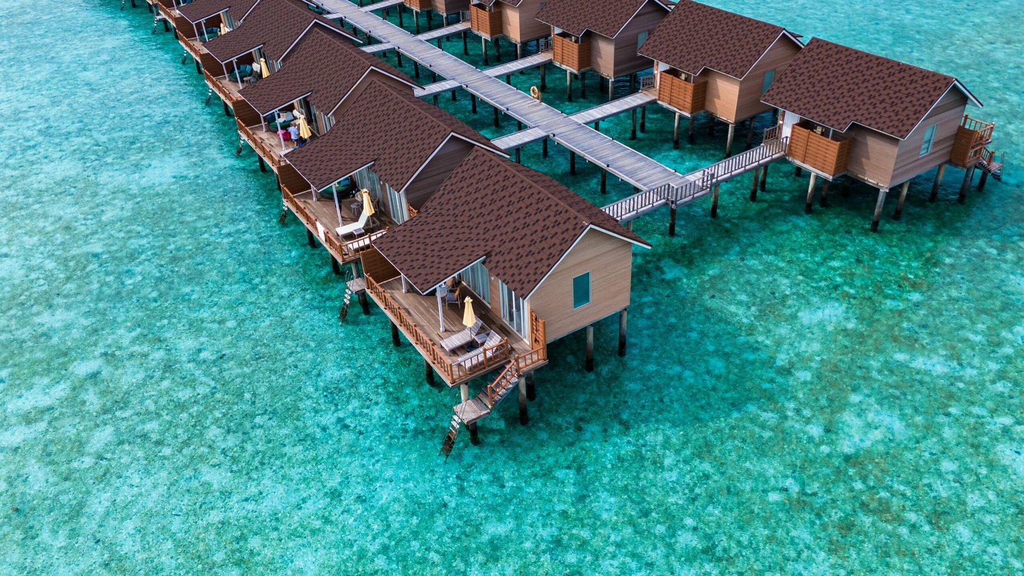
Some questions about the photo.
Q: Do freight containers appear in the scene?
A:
No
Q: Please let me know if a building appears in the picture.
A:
Yes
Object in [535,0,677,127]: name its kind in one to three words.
house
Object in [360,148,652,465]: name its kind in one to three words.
house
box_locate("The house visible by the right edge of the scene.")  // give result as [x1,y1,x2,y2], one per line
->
[761,37,1003,248]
